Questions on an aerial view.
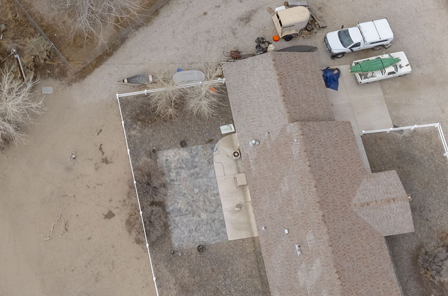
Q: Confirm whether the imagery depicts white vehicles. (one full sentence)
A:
Yes, there is a white vehicle in the image.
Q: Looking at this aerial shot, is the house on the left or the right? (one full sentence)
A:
You can find the house on the right side of the picture.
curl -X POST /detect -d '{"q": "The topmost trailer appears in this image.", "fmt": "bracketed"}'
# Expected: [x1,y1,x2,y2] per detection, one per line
[268,8,314,37]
